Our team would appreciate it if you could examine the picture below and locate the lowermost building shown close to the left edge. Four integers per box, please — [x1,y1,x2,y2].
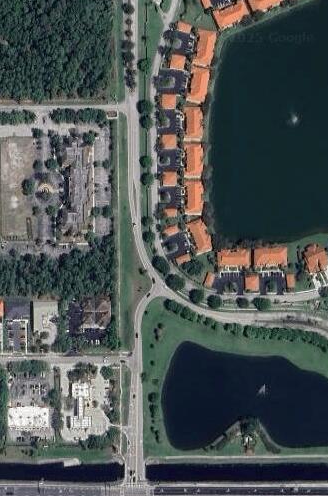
[6,408,49,429]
